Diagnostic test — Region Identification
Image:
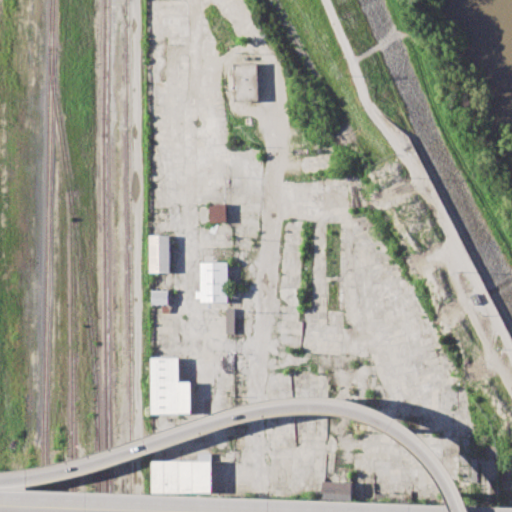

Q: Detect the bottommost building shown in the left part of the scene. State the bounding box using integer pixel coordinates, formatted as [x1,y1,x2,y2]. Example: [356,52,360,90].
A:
[150,452,212,494]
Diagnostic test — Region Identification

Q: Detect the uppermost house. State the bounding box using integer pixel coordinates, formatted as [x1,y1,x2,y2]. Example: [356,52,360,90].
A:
[234,64,257,102]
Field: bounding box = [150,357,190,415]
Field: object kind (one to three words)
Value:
building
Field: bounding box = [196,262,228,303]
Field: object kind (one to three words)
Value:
building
